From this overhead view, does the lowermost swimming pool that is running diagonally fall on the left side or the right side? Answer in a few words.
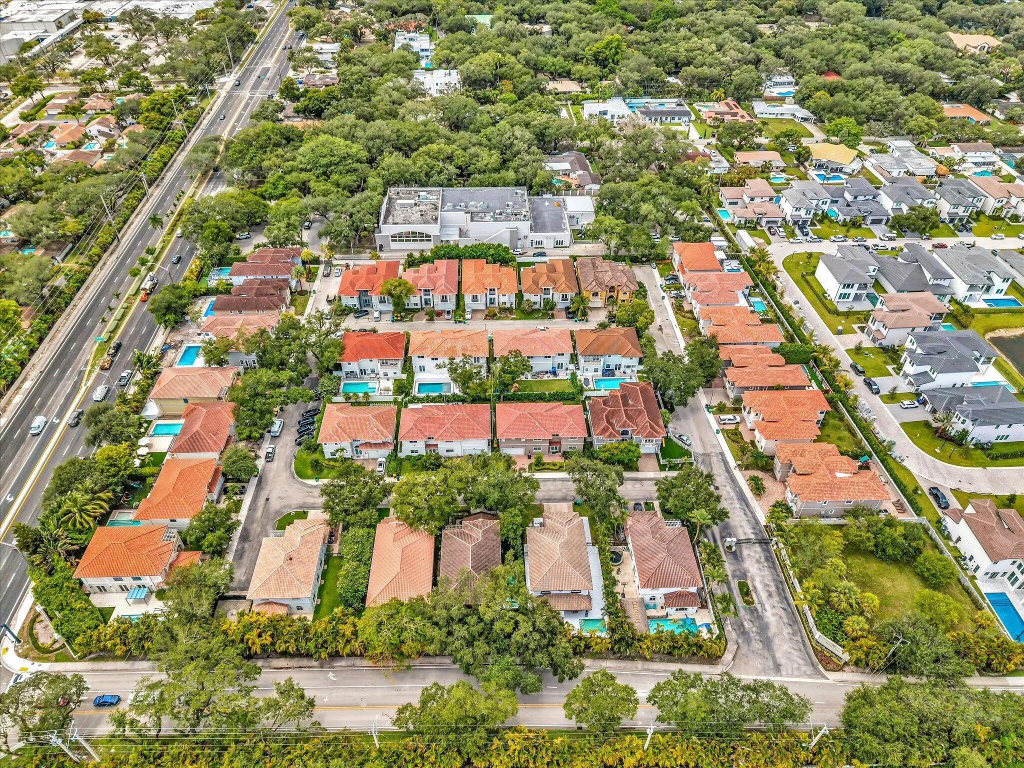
right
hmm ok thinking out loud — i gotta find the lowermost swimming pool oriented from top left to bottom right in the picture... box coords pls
[983,590,1024,636]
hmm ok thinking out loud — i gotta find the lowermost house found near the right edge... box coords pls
[943,499,1024,578]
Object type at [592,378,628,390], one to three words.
swimming pool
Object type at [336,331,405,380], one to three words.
house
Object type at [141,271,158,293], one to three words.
vehicle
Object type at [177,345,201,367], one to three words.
swimming pool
